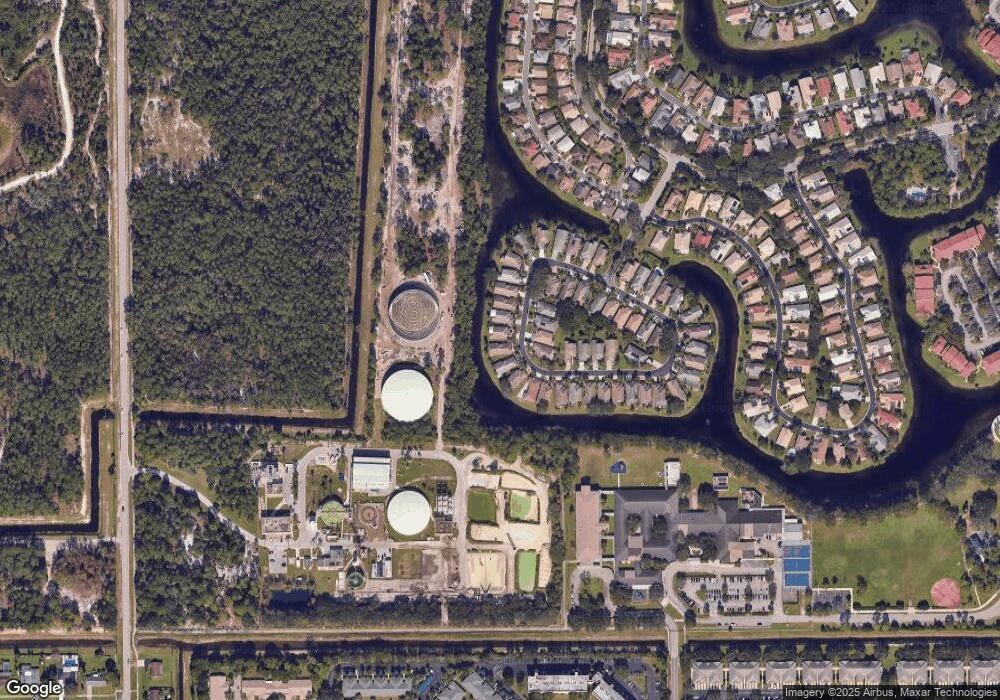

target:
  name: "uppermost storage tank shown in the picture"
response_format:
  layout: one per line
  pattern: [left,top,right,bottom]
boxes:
[386,287,441,343]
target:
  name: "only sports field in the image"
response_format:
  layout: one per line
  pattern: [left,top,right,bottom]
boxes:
[813,500,978,609]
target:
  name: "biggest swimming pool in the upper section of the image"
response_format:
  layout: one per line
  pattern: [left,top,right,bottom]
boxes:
[908,188,928,201]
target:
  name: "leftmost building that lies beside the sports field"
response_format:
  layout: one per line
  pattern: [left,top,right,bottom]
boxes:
[600,484,785,589]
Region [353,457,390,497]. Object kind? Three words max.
shed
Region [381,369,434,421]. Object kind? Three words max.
storage tank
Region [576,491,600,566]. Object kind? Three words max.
building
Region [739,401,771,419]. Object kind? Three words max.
house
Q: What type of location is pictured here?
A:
residential area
